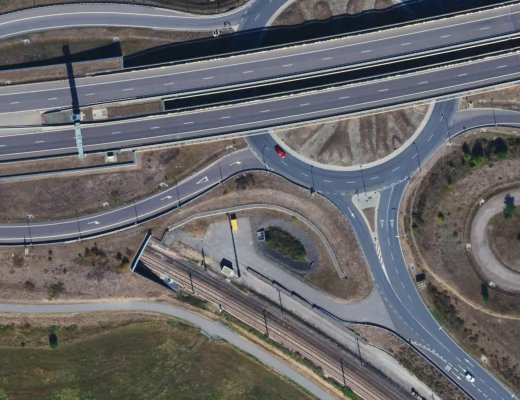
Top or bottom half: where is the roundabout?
top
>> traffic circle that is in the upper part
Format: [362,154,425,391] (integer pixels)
[230,0,461,194]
